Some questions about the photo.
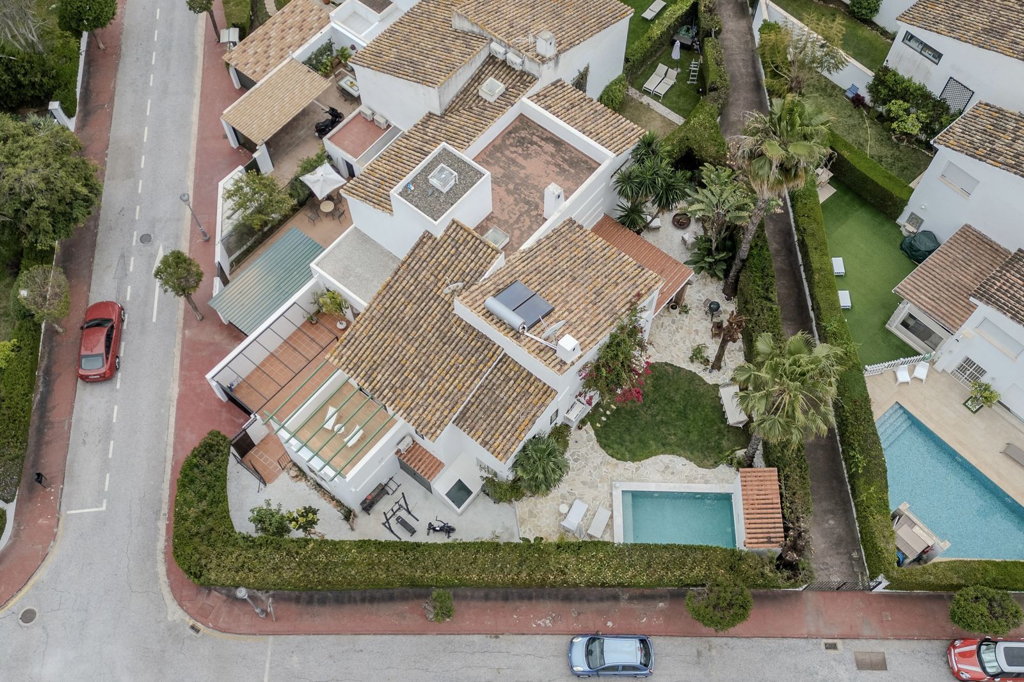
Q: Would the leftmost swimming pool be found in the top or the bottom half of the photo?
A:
bottom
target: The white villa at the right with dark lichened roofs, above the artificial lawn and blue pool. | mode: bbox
[880,94,1024,427]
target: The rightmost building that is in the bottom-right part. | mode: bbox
[894,501,951,558]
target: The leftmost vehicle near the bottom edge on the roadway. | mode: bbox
[569,630,655,679]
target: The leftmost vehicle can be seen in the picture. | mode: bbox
[77,306,127,387]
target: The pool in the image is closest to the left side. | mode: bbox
[613,483,743,554]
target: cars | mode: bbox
[569,630,655,679]
[77,306,127,387]
[942,633,1024,682]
